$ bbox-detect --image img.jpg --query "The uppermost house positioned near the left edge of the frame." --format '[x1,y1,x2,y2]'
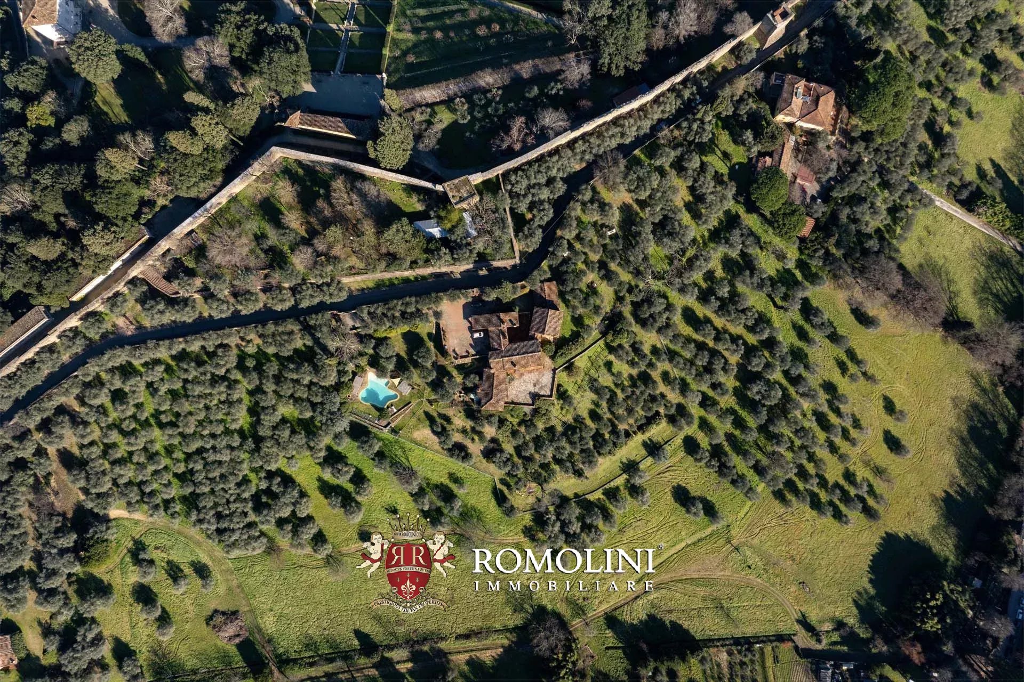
[21,0,74,36]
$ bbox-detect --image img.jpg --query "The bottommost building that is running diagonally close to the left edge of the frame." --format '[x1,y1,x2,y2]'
[0,305,58,363]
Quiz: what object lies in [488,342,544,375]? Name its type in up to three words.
house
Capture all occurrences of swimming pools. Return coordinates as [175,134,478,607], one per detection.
[358,371,401,409]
